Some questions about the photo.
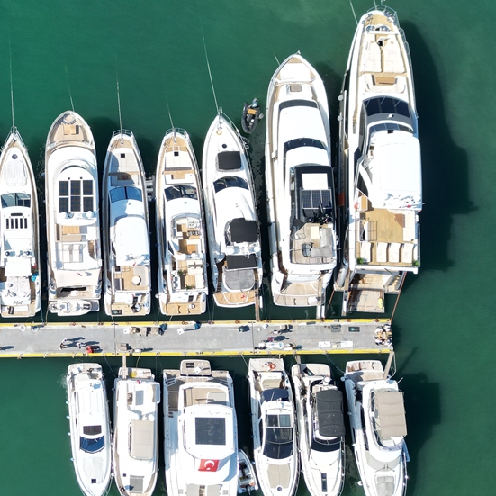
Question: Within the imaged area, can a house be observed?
No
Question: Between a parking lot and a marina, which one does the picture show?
marina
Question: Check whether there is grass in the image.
No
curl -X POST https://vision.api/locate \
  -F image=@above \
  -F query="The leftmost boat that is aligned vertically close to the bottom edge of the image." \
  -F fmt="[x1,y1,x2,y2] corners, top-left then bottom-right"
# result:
[64,352,115,496]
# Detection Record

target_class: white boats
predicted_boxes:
[201,41,266,322]
[41,71,104,322]
[0,115,44,318]
[157,355,241,496]
[241,352,300,496]
[101,83,155,322]
[327,355,412,496]
[291,358,347,496]
[64,352,115,496]
[49,300,92,314]
[260,45,352,319]
[328,0,437,320]
[110,356,164,496]
[153,102,210,321]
